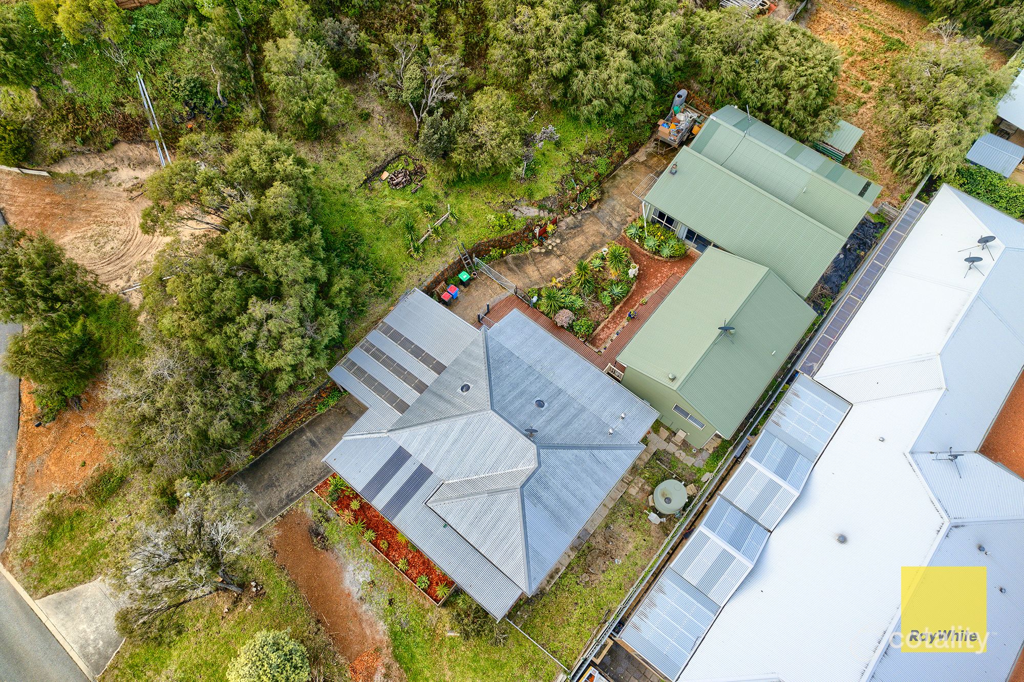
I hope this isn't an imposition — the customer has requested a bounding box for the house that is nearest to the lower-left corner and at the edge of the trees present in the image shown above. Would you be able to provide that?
[322,288,660,622]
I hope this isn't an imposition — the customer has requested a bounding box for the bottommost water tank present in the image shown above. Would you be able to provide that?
[649,479,688,518]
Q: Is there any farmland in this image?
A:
No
